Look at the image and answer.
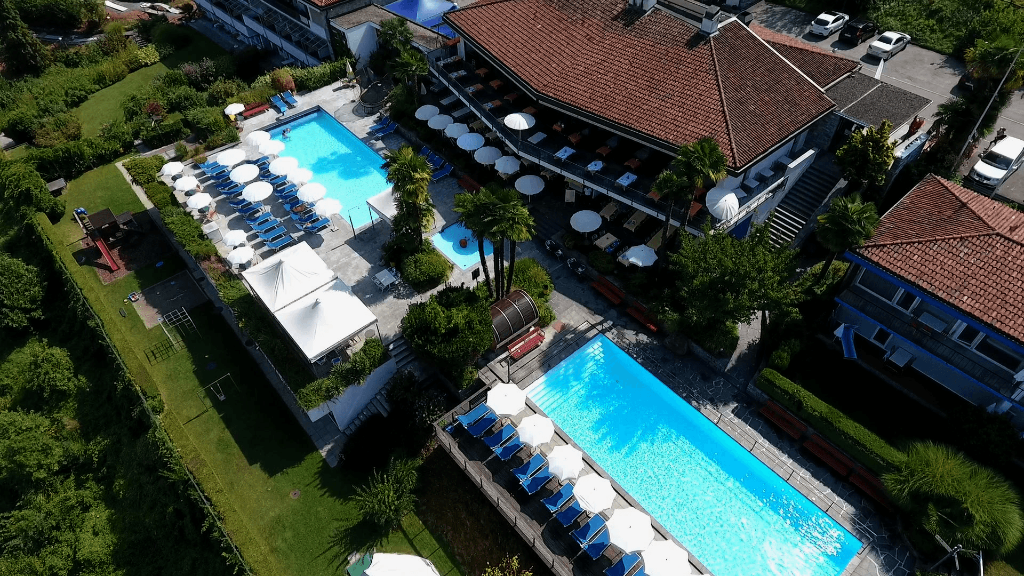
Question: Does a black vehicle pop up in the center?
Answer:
No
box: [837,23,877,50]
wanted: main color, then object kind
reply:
black car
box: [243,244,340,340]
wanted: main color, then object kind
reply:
white tent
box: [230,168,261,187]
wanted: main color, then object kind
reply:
white umbrella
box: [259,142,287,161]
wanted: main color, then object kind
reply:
white umbrella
